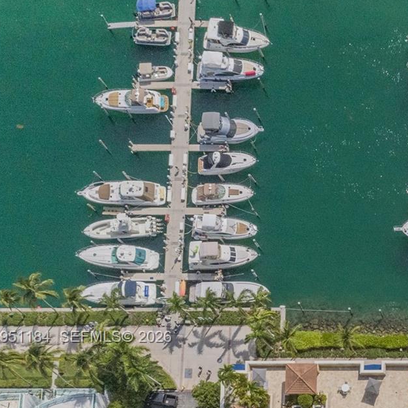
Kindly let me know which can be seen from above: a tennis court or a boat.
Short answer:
boat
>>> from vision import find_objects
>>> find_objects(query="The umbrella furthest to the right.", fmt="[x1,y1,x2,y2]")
[362,377,383,396]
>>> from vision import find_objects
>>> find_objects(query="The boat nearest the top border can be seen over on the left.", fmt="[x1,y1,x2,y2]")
[134,0,177,21]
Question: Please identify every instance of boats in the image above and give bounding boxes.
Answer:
[190,280,270,308]
[73,244,161,271]
[193,212,258,241]
[133,65,174,81]
[130,26,174,46]
[205,24,270,55]
[193,183,257,206]
[89,90,171,117]
[134,0,177,21]
[190,242,258,271]
[81,282,157,308]
[81,218,162,243]
[199,116,264,145]
[75,182,167,208]
[198,54,264,83]
[198,152,259,176]
[184,277,189,298]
